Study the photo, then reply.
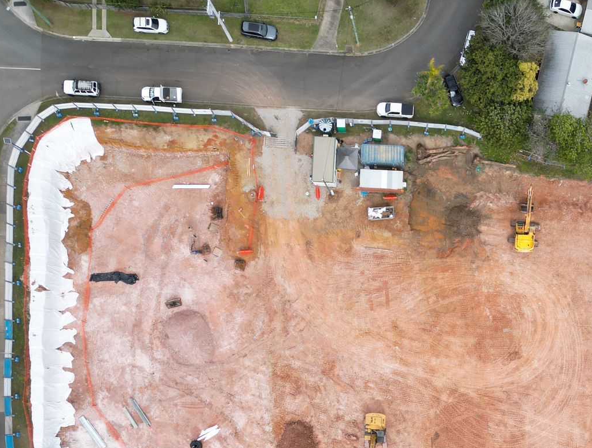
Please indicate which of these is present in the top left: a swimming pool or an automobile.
automobile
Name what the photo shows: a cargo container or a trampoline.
cargo container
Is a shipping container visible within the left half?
No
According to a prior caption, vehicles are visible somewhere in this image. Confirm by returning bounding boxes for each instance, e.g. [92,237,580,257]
[130,13,167,34]
[141,82,179,106]
[459,26,480,65]
[441,71,464,106]
[376,99,414,117]
[511,180,539,251]
[60,76,98,94]
[550,0,583,16]
[239,17,275,39]
[364,414,386,448]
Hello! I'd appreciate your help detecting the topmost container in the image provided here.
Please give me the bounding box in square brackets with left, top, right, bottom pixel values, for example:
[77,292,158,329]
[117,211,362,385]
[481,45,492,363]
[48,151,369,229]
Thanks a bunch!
[361,144,406,170]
